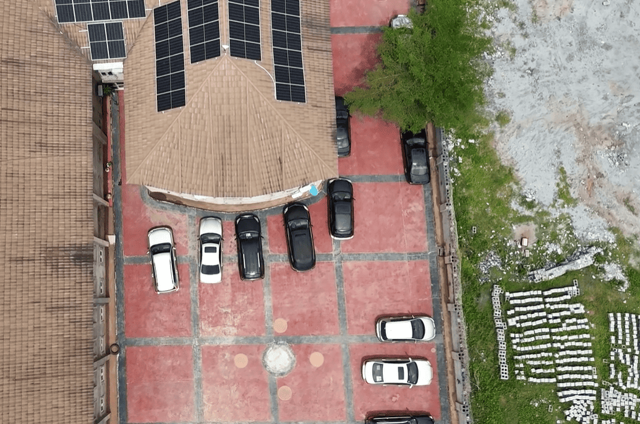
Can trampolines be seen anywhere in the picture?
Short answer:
No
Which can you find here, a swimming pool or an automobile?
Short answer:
automobile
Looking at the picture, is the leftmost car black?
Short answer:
No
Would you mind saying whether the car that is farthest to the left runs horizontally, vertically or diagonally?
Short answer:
vertically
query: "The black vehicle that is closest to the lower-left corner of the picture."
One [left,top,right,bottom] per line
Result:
[234,213,266,280]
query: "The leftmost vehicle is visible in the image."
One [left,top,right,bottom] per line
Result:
[148,227,179,294]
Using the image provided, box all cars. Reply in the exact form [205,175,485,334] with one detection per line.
[336,96,355,157]
[375,314,435,346]
[361,357,432,390]
[234,213,266,280]
[195,217,226,284]
[364,414,435,424]
[326,177,357,240]
[283,203,317,272]
[148,227,179,294]
[398,120,432,184]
